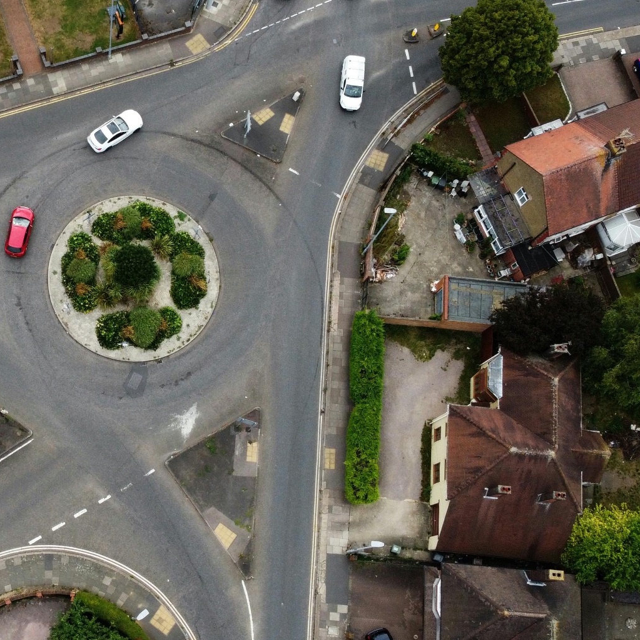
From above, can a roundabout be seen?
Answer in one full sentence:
Yes, there's a roundabout down there.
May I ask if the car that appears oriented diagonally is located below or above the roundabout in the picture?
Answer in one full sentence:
In the image, the car that appears oriented diagonally appears above the roundabout.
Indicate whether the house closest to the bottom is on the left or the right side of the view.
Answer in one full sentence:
The house closest to the bottom appears in the right half of the scene.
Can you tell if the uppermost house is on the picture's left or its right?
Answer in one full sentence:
It is on the right.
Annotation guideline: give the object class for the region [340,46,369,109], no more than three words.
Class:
truck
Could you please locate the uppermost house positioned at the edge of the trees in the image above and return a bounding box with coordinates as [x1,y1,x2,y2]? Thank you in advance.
[458,98,640,282]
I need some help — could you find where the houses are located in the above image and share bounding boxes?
[415,563,588,640]
[428,340,608,564]
[458,98,640,282]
